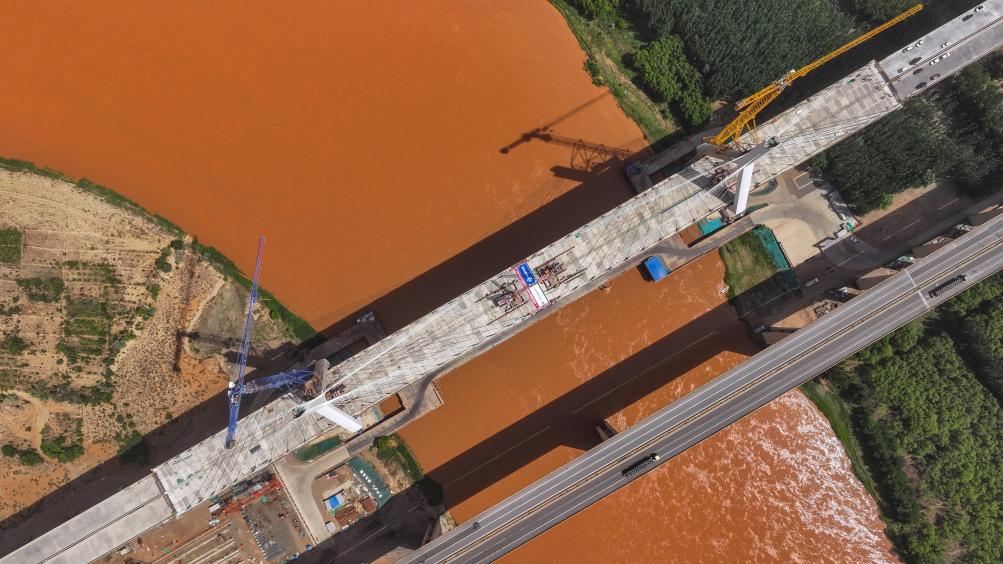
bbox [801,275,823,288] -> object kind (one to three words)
vehicle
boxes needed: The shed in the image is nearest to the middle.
[642,254,673,285]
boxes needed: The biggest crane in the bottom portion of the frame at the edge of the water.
[223,237,346,448]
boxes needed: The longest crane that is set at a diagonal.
[682,5,924,168]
